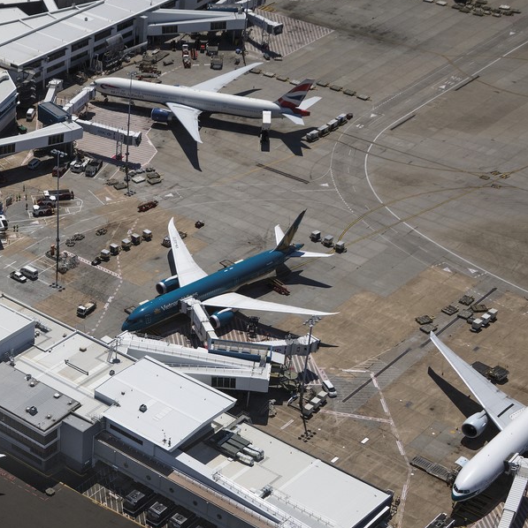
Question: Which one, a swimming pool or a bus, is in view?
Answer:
bus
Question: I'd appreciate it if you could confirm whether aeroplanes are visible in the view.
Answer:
Yes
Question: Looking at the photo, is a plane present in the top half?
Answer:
Yes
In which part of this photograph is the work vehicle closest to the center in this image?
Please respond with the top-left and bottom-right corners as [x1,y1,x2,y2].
[268,273,290,293]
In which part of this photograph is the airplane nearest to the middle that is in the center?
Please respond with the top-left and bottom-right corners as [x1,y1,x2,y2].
[120,209,336,333]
